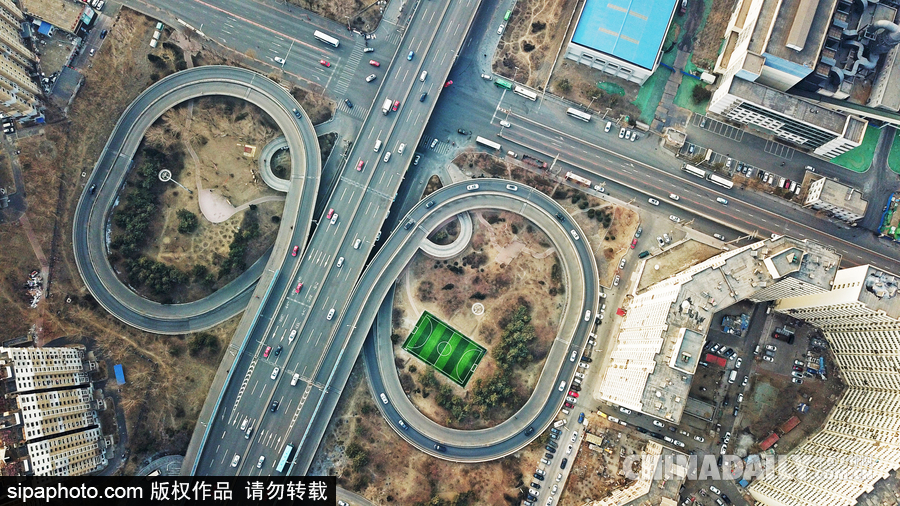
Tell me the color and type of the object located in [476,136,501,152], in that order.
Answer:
white vehicle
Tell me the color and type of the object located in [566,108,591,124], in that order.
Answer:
white vehicle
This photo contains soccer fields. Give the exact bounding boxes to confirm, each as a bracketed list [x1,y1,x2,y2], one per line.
[401,309,488,387]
